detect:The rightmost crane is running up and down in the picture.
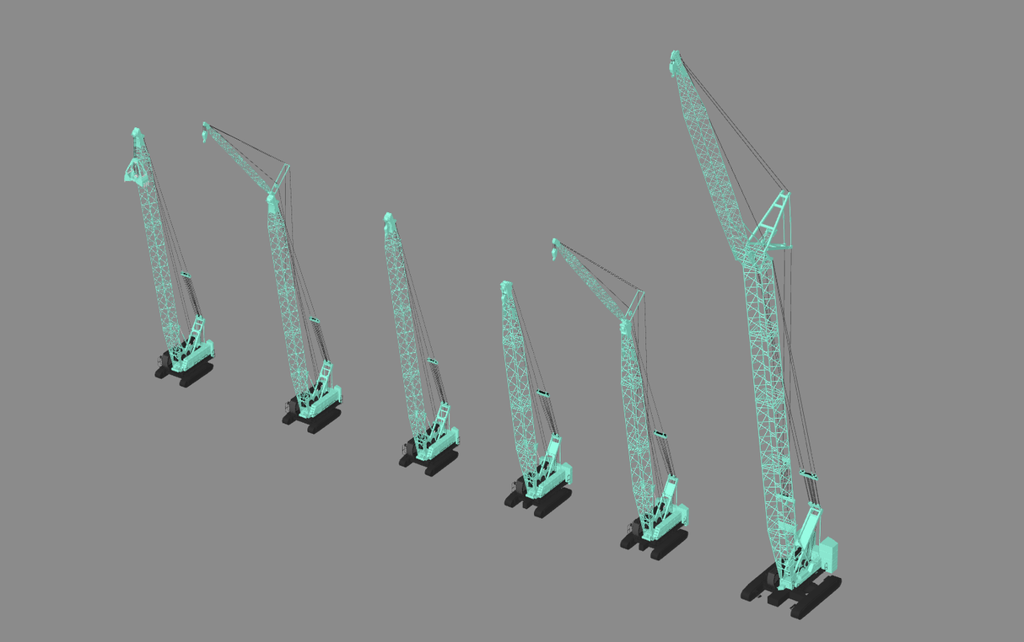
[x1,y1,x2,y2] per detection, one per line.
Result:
[671,50,842,619]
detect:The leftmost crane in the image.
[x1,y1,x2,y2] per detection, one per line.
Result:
[130,129,216,388]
